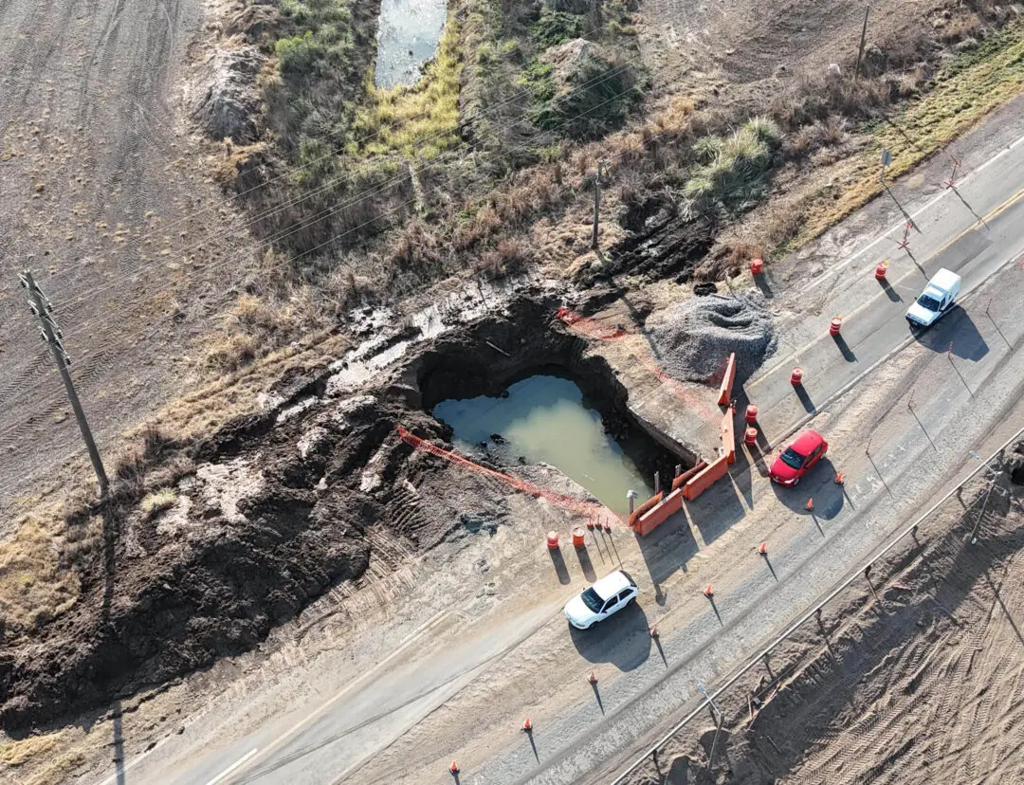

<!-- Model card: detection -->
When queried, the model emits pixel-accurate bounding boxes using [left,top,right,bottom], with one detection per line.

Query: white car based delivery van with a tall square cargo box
[905,266,964,325]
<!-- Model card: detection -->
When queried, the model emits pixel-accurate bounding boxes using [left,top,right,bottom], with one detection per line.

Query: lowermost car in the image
[565,569,642,629]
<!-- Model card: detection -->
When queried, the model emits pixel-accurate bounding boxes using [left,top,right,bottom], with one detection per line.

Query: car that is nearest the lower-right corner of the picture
[771,429,832,485]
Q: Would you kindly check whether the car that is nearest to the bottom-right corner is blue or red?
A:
red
